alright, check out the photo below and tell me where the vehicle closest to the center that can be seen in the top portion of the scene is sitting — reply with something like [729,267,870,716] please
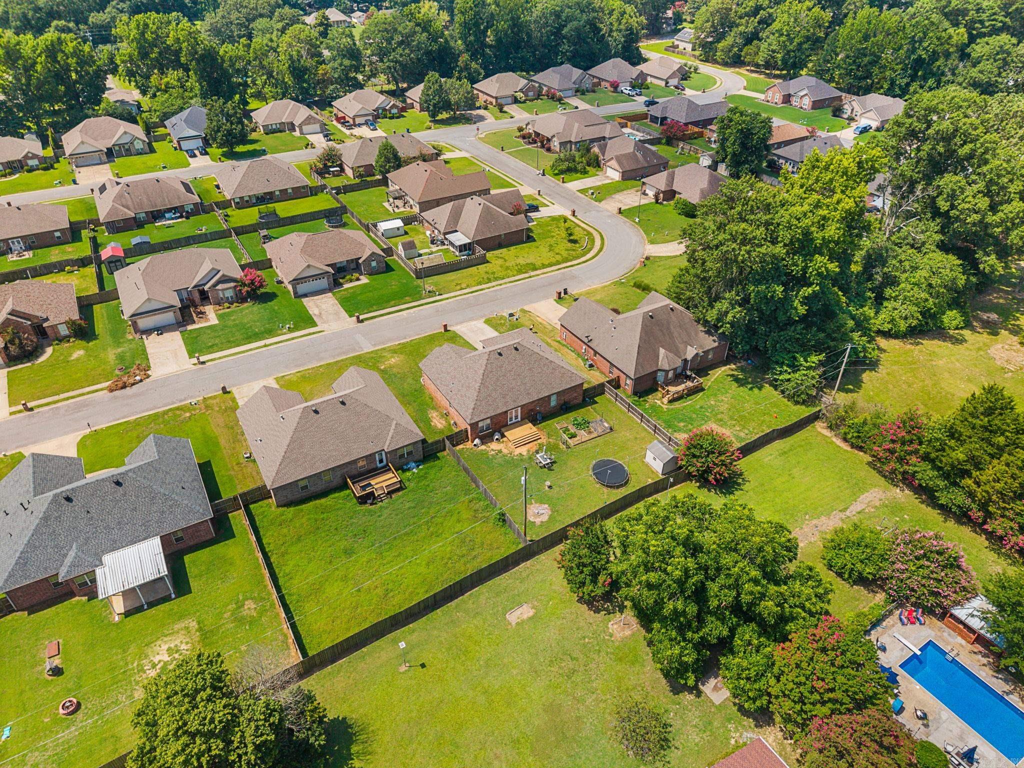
[524,201,544,213]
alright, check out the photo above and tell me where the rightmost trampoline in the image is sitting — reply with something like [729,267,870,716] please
[590,448,631,493]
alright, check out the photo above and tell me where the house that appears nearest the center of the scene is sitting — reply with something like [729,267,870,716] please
[418,323,587,437]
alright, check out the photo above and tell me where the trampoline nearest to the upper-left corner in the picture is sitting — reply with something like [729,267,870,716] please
[256,203,281,222]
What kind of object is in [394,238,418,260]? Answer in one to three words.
shed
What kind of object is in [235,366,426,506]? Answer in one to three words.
house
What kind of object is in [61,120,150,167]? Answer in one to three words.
house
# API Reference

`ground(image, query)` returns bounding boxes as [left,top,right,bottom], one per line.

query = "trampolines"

[590,448,631,493]
[256,203,281,222]
[323,207,345,224]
